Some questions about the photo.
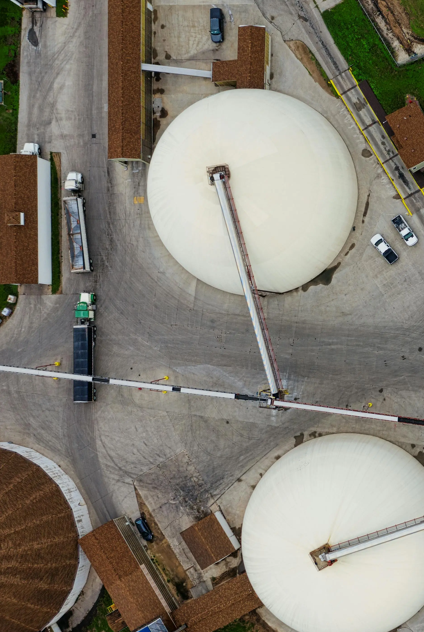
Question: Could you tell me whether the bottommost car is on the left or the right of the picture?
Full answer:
The bottommost car is on the left side of the image.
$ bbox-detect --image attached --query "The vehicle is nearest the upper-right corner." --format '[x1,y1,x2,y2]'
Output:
[208,7,223,40]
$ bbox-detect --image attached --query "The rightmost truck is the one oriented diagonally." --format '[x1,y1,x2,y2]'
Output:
[391,213,417,245]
